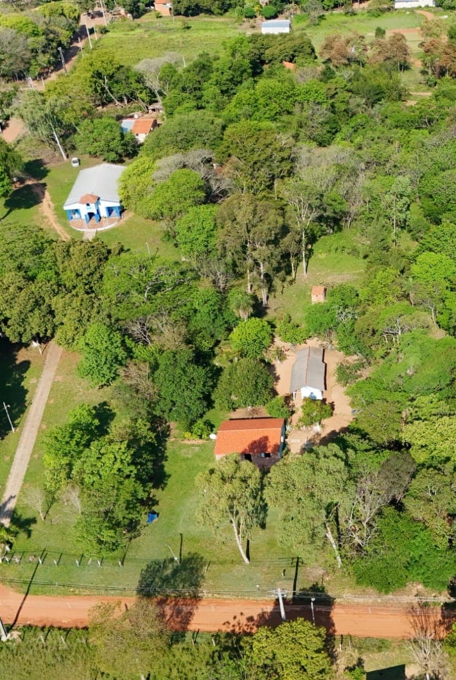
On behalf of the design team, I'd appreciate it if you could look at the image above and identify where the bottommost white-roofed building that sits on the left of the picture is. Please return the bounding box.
[62,163,128,227]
